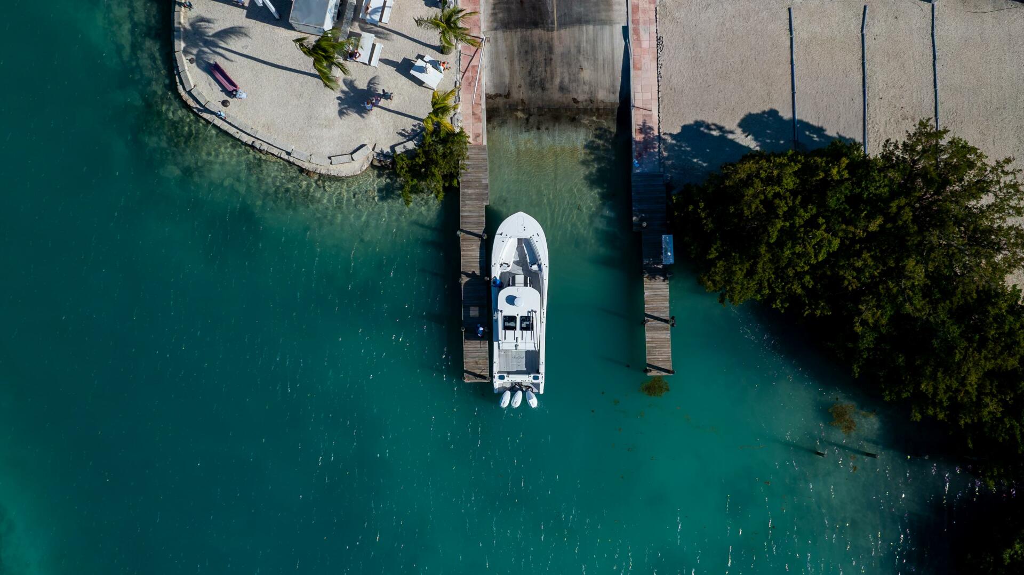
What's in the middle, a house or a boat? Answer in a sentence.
The feature located in the middle is a boat.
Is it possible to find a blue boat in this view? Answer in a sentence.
No, the scene contains no blue boat.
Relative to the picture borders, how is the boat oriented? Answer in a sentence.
The boat runs vertically in the image.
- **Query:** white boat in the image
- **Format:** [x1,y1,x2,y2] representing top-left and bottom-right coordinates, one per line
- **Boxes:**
[491,211,549,408]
